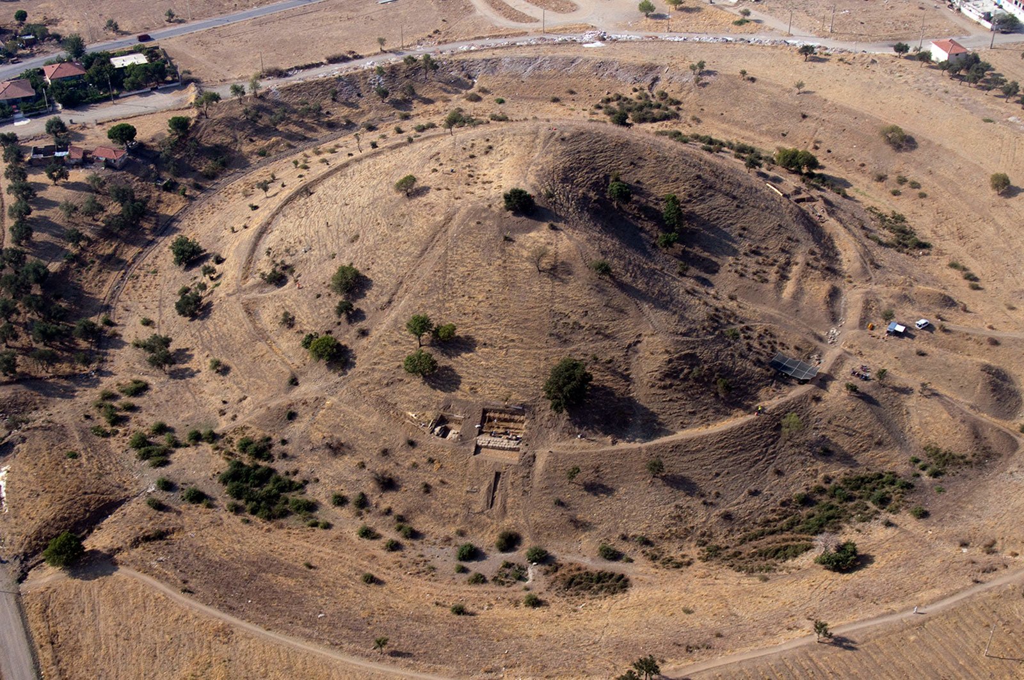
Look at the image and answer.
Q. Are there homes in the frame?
Yes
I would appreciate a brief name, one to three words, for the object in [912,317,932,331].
vehicle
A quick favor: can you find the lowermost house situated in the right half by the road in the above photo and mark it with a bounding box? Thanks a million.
[931,36,966,63]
